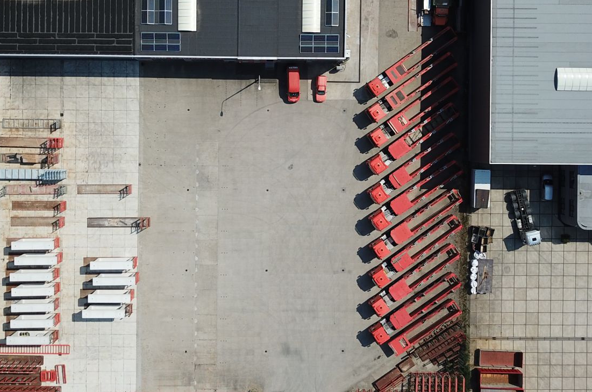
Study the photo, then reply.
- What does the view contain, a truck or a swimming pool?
truck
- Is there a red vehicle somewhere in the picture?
Yes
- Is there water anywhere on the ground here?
No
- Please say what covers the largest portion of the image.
paved ground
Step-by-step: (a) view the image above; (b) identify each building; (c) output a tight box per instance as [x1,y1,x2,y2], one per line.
[467,0,592,167]
[0,0,351,66]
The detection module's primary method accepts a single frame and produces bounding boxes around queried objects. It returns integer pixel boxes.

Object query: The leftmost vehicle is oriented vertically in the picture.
[285,67,301,103]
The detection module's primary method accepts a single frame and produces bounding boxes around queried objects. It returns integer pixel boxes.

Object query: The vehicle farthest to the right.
[540,173,554,200]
